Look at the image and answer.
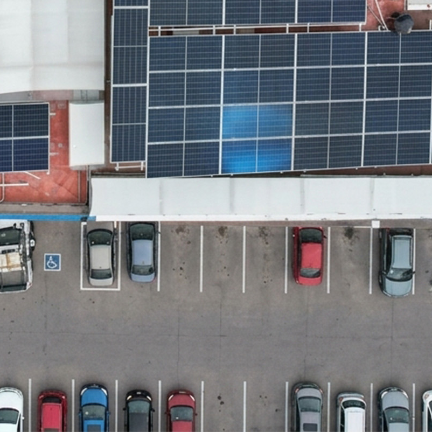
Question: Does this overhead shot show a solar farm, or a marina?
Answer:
solar farm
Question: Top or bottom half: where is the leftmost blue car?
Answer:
bottom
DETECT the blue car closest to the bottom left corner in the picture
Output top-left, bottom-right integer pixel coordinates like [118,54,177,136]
[76,383,111,432]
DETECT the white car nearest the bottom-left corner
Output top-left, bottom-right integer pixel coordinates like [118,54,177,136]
[0,385,25,432]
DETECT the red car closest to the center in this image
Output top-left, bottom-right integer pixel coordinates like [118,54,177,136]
[289,222,327,284]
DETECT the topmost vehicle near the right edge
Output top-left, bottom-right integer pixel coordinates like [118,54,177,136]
[377,222,417,295]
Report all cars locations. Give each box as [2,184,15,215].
[164,388,199,432]
[121,388,156,432]
[374,385,413,432]
[377,222,417,295]
[331,392,369,432]
[289,222,327,284]
[36,389,68,432]
[288,382,322,432]
[125,222,158,282]
[76,383,111,432]
[0,385,25,432]
[84,222,118,284]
